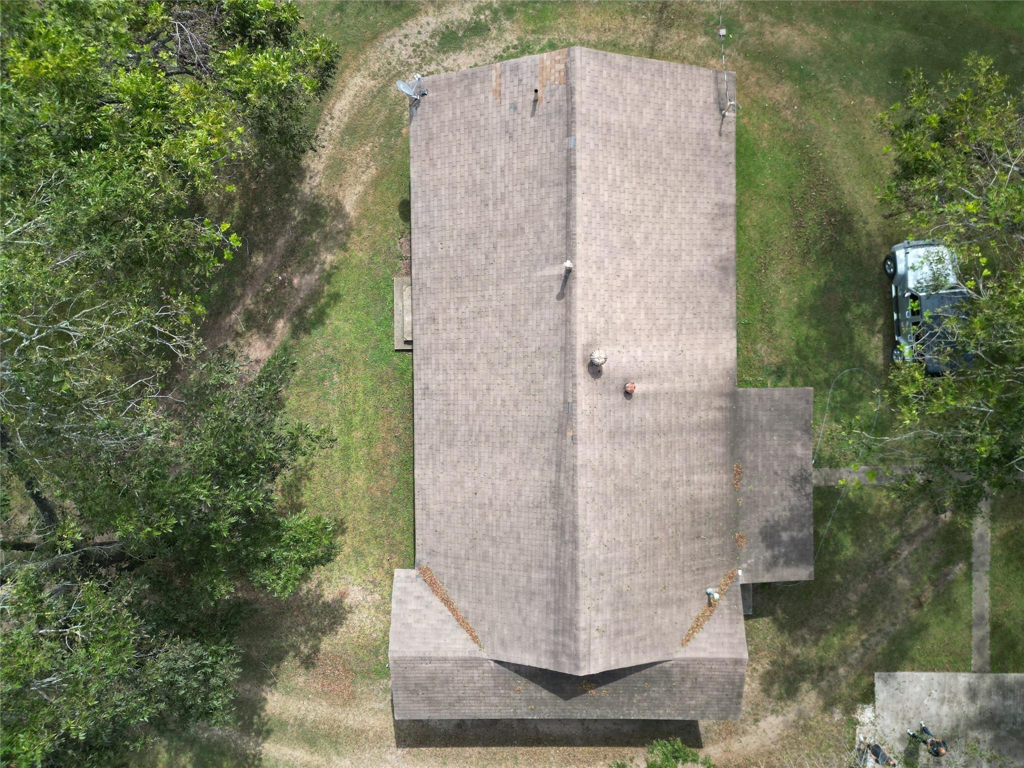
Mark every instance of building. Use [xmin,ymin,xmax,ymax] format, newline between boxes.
[388,46,814,720]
